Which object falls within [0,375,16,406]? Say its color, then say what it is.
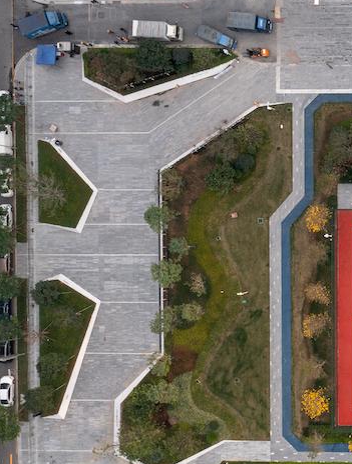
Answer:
white car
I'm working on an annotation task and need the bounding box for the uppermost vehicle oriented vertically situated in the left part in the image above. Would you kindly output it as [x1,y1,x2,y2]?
[0,128,13,157]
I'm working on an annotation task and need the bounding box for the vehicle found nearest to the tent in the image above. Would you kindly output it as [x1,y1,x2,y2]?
[51,37,76,53]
